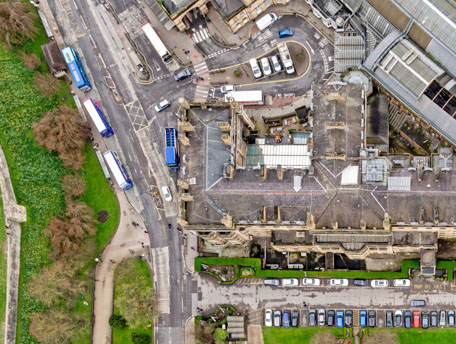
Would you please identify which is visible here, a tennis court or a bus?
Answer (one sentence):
This aerial view contains a bus.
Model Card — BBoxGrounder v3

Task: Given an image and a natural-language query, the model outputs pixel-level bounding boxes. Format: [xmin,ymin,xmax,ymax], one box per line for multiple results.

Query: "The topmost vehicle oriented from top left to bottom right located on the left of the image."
[141,22,174,66]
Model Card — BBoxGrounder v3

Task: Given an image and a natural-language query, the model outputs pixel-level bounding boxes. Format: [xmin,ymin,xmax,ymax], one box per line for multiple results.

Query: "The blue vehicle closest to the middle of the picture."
[167,127,181,171]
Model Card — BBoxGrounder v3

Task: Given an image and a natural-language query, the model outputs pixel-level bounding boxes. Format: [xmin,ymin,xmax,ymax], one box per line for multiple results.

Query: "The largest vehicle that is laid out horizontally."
[226,92,266,106]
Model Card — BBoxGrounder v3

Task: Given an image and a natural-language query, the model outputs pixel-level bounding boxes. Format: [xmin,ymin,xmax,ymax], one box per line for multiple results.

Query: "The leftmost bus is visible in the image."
[62,49,93,95]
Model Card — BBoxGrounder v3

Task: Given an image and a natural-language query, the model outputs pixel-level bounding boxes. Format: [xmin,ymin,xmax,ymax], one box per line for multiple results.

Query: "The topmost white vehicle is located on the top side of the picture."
[255,14,276,31]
